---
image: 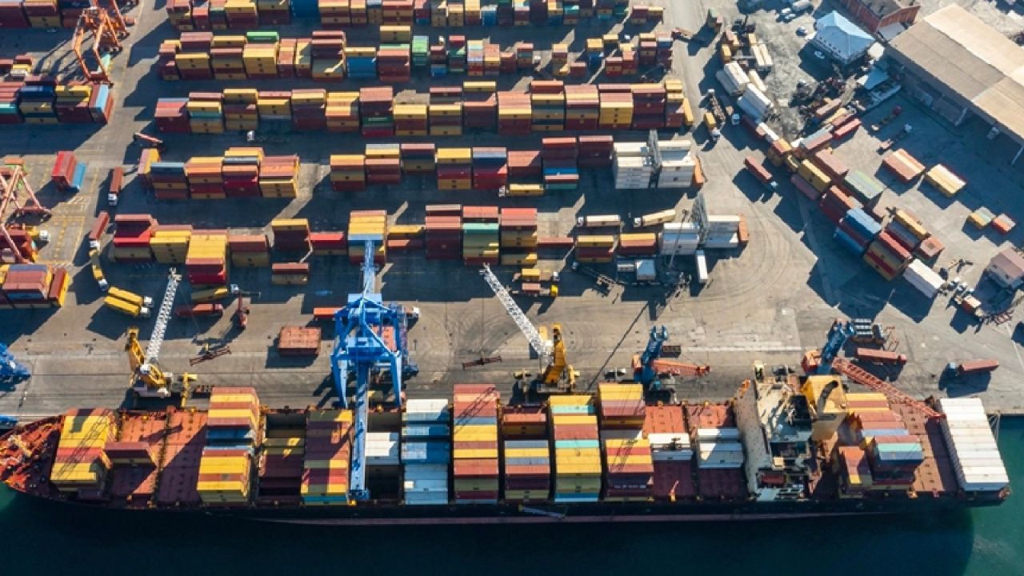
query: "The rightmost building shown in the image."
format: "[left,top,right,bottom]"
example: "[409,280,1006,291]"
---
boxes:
[986,252,1024,301]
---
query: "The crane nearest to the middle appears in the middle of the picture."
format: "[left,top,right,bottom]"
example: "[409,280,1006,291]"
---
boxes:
[480,264,587,400]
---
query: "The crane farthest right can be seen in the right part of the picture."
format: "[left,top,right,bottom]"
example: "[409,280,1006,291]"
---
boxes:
[788,320,946,422]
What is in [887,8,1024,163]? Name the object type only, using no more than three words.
warehouse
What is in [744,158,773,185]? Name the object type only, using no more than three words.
shipping container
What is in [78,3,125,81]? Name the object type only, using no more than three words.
container crane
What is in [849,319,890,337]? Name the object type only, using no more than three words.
vehicle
